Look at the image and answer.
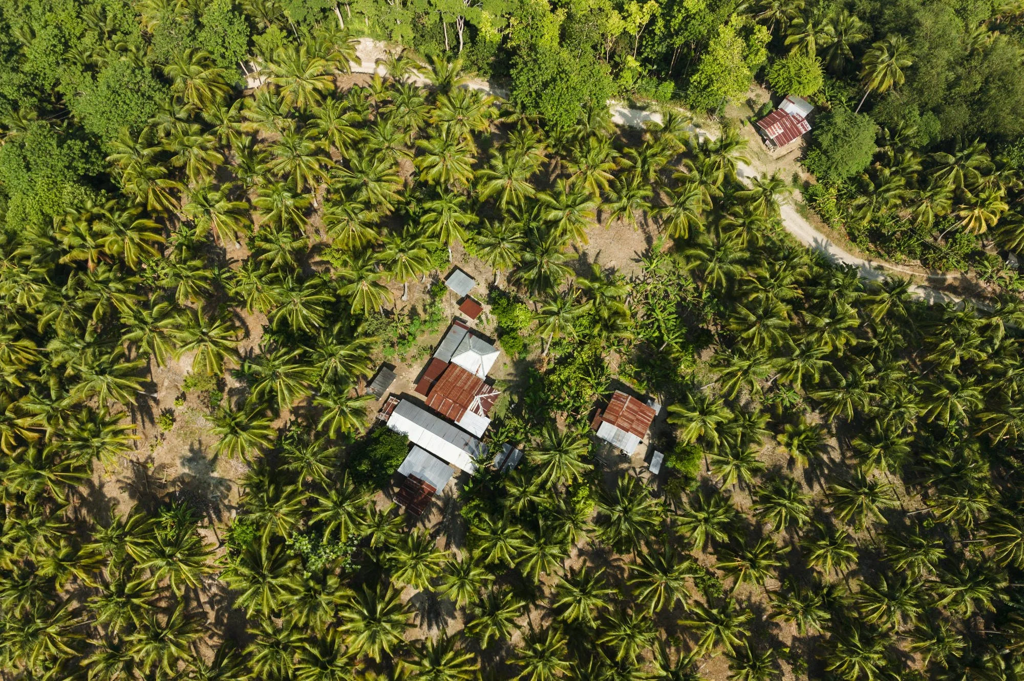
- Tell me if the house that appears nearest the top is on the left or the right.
right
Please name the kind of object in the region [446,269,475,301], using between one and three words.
shed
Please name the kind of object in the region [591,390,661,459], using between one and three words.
house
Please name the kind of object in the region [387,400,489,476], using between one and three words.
barn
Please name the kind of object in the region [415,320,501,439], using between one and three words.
house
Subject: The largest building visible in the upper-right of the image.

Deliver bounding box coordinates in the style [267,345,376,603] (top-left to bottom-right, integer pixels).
[753,94,814,154]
